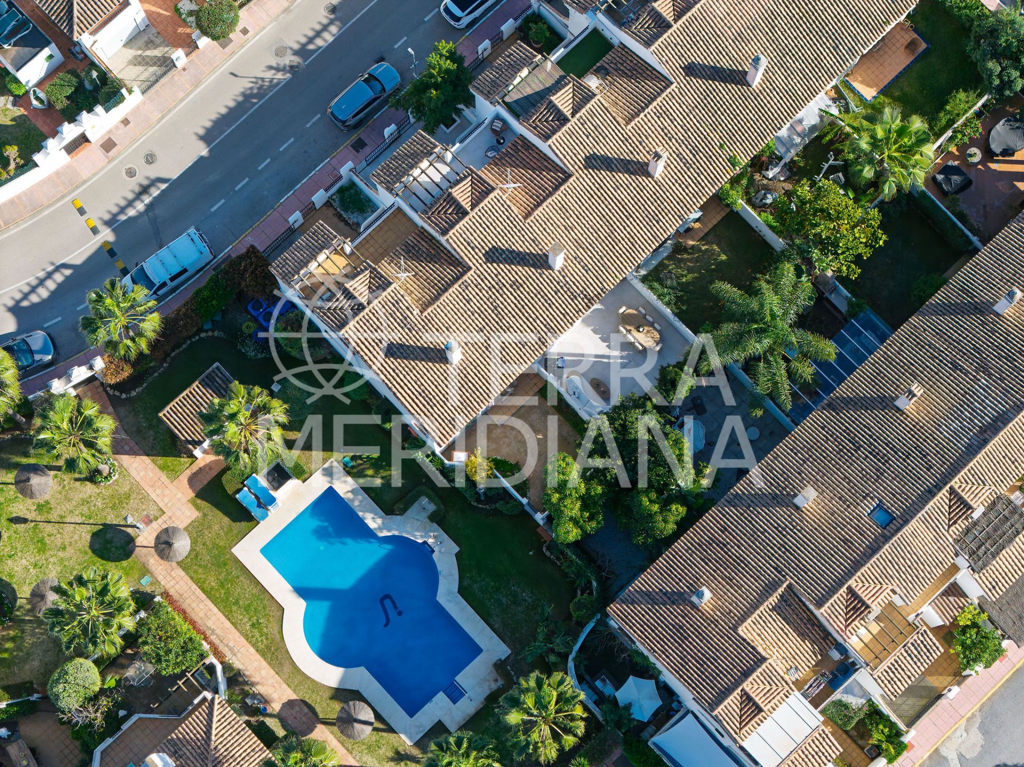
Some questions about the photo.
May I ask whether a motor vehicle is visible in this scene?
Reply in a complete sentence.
Yes, this view includes a motor vehicle.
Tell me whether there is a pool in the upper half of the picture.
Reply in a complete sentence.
No, no pool can be made out in the upper half of the picture.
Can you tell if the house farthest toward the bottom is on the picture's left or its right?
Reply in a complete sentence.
It is on the left.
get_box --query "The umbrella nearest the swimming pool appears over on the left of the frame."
[336,700,375,741]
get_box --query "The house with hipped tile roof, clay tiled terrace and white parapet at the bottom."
[93,656,284,767]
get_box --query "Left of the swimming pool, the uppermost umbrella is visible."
[15,463,52,501]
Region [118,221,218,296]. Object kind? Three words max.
van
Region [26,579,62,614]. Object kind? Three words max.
umbrella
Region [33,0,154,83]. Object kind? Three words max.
house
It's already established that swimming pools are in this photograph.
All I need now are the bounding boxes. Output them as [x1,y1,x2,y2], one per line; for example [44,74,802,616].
[261,487,483,718]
